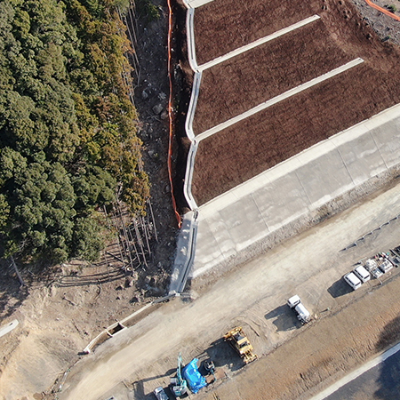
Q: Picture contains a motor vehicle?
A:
Yes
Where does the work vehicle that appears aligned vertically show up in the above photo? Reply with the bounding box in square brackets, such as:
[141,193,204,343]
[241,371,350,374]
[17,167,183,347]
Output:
[173,358,190,400]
